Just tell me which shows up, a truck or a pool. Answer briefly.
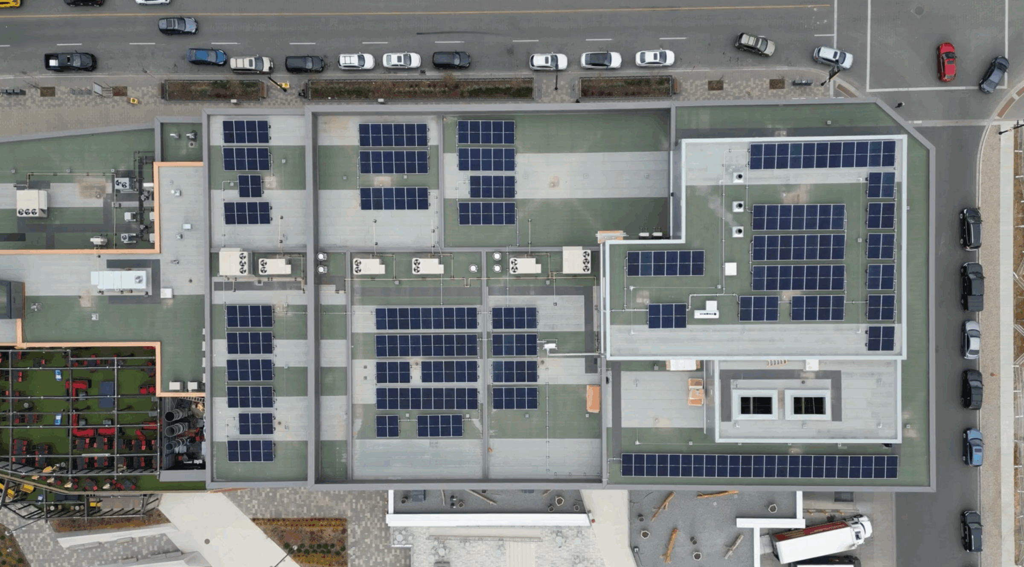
truck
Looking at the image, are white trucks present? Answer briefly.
Yes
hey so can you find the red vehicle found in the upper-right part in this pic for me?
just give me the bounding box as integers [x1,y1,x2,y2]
[935,43,958,83]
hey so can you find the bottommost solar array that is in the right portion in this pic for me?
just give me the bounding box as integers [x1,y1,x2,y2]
[619,454,900,478]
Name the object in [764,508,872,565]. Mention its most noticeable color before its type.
white truck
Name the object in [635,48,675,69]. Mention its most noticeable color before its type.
white car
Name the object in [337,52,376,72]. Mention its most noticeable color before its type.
white car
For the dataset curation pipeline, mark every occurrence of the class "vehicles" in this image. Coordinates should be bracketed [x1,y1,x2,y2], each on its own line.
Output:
[284,54,325,74]
[382,51,422,71]
[186,47,228,67]
[229,54,274,75]
[764,508,872,565]
[812,46,853,70]
[787,551,854,567]
[734,32,775,59]
[960,370,984,411]
[959,263,985,312]
[960,321,983,360]
[337,52,376,72]
[959,208,984,250]
[635,48,675,69]
[431,50,471,70]
[959,511,984,553]
[0,0,23,9]
[961,428,984,468]
[156,15,200,37]
[529,52,568,72]
[42,51,98,74]
[580,50,621,70]
[979,57,1008,96]
[935,43,958,83]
